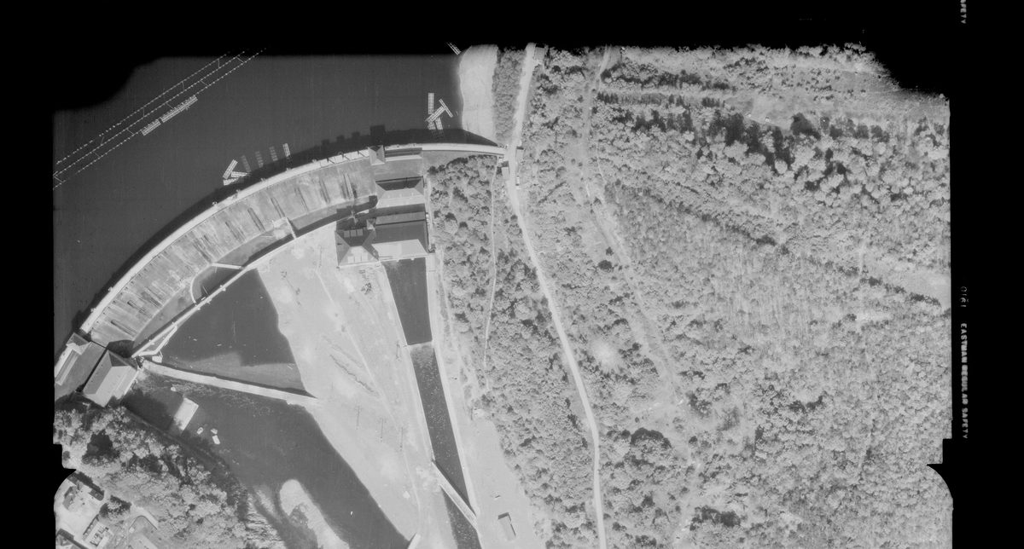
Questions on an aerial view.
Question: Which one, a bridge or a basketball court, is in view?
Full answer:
This aerial view contains a bridge.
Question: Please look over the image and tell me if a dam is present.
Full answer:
Yes, looking at the shot, I can spot a dam.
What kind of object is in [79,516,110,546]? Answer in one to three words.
house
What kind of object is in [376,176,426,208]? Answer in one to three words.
building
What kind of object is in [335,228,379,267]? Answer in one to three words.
building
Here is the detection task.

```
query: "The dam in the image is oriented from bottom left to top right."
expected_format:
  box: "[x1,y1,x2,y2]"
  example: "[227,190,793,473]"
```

[14,140,510,427]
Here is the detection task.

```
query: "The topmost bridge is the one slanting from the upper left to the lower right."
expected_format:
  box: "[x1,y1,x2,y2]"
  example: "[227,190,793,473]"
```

[429,464,477,526]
